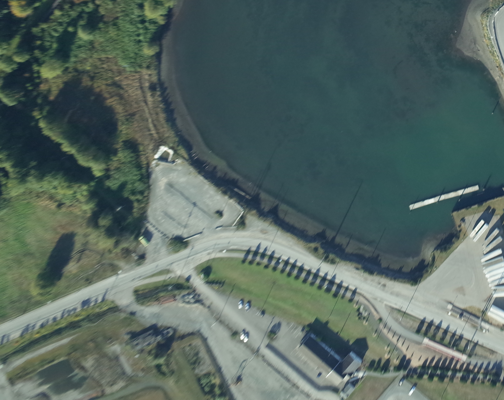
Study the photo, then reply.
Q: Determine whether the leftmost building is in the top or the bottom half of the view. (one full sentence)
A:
The leftmost building sits in the bottom half of the picture.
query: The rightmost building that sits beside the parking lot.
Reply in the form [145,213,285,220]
[342,347,365,377]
